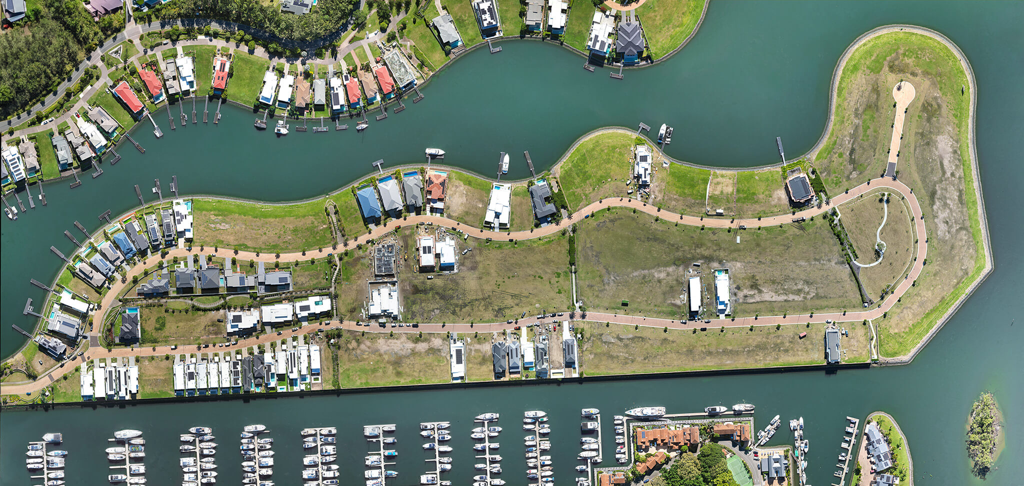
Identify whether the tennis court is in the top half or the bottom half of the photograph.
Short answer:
bottom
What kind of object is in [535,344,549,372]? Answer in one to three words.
house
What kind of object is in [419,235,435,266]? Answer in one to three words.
house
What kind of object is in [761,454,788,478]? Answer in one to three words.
building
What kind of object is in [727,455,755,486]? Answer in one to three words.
tennis court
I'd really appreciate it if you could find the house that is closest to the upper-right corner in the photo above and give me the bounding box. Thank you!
[785,175,817,205]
